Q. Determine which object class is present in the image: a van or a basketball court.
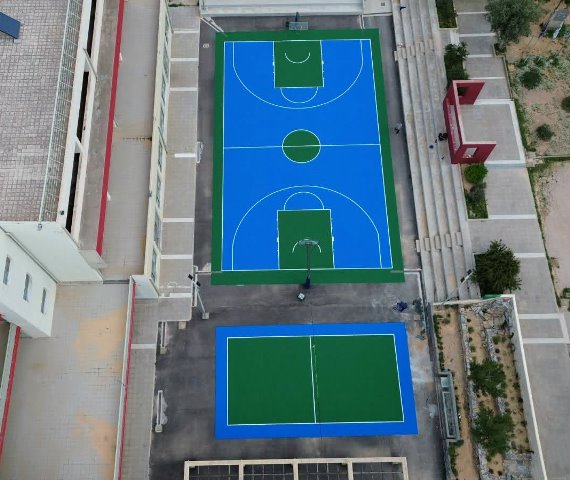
basketball court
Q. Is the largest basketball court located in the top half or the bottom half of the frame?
top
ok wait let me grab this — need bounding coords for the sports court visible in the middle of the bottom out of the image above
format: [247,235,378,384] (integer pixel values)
[215,322,418,439]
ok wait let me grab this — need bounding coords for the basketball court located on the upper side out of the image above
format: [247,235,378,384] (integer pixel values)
[211,28,405,285]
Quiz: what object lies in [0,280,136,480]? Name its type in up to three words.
building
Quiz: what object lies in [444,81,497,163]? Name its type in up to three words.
building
